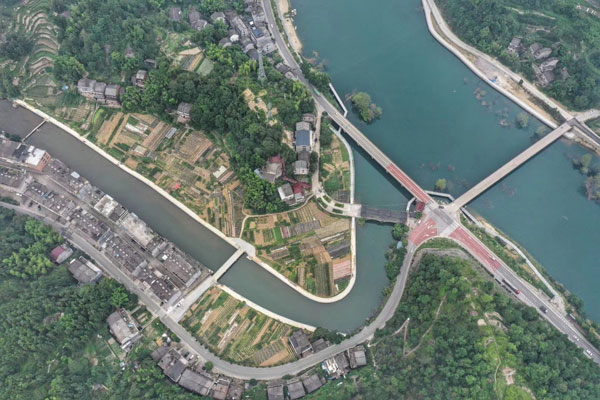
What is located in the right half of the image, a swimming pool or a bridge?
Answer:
bridge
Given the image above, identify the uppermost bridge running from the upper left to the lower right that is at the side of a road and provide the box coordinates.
[326,106,429,205]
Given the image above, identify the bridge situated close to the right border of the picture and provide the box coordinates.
[455,119,574,210]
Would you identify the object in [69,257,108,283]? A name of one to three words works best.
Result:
house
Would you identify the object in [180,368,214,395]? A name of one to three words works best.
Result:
house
